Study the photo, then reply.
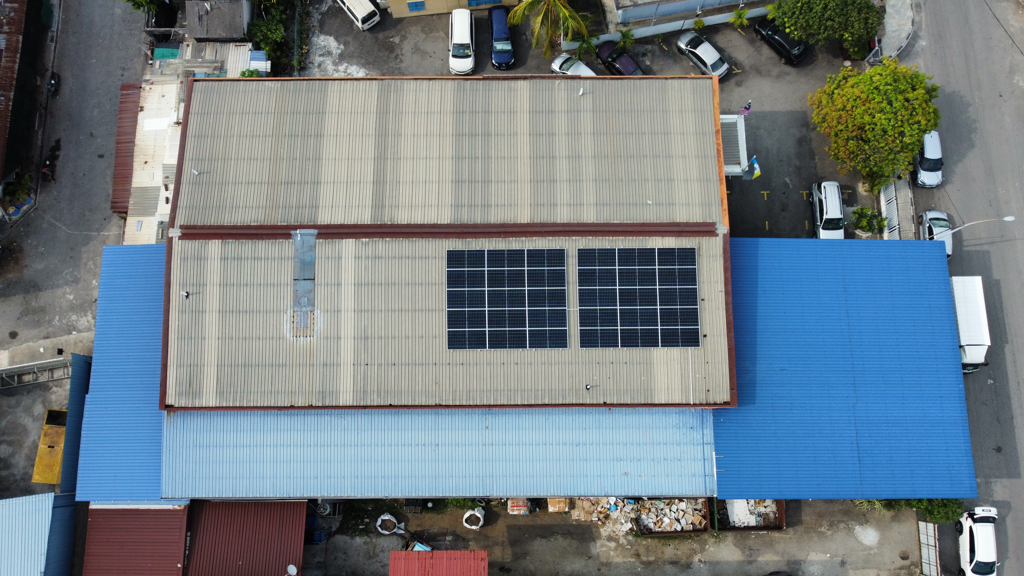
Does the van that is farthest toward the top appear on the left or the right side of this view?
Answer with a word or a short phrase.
left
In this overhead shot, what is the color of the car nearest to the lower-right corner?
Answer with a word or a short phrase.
white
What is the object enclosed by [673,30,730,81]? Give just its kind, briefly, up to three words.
car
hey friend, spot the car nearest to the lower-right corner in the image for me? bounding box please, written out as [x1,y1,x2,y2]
[954,504,1000,576]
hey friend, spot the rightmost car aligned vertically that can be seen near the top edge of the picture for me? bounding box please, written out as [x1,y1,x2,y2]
[489,10,518,71]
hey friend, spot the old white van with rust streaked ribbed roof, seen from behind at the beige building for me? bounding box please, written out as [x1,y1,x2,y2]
[333,0,378,33]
